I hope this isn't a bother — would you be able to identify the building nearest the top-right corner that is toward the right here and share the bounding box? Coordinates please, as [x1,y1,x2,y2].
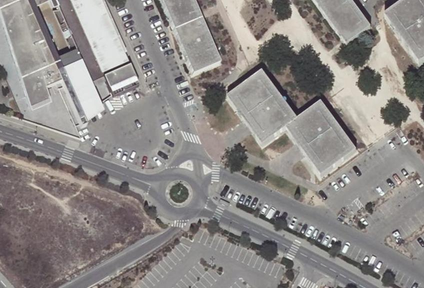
[384,0,424,67]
